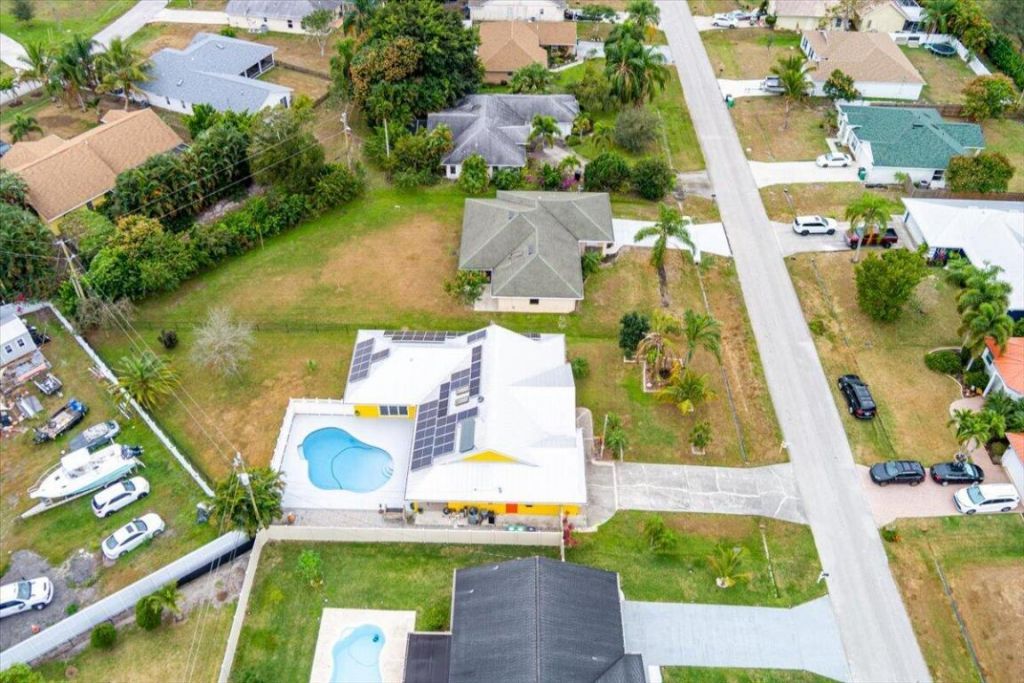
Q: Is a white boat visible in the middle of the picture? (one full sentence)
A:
No, no white boat can be made out in the middle of the picture.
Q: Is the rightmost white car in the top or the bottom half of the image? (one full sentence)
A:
It is in the bottom half that the rightmost white car appears.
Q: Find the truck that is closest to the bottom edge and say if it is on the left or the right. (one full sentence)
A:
The truck that is closest to the bottom edge appears in the left half of the scene.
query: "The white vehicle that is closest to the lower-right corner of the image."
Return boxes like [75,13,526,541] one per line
[950,483,1024,513]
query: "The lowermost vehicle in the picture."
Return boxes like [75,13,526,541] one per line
[0,576,65,623]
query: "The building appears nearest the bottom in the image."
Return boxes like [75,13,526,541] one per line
[395,556,650,683]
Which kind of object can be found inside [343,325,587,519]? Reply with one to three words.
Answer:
house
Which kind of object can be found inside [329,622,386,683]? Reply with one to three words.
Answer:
swimming pool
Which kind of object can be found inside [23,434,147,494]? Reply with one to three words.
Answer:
boat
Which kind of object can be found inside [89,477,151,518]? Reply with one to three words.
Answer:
car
